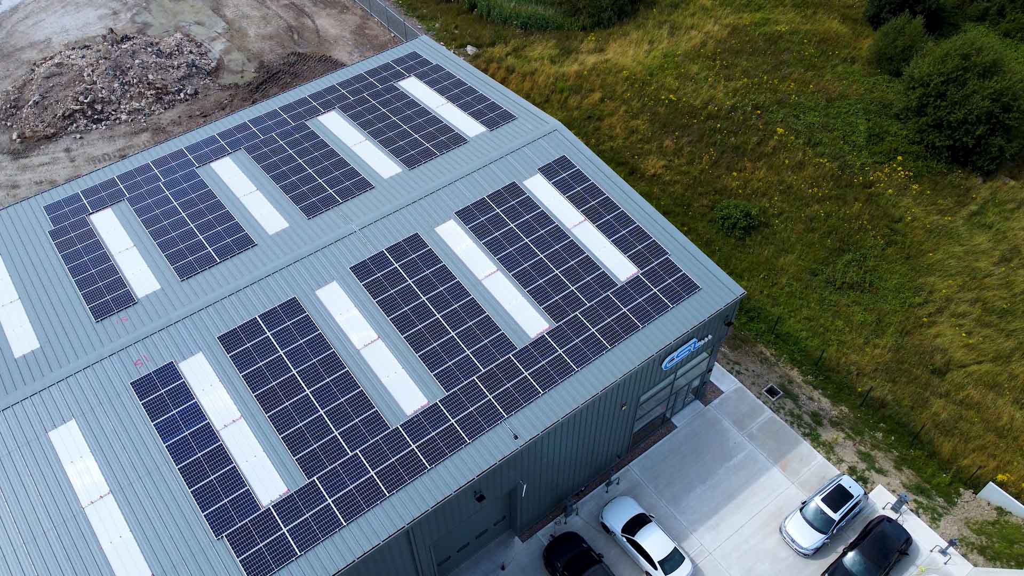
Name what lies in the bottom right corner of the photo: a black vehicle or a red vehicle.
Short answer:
black vehicle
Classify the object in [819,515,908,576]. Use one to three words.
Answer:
car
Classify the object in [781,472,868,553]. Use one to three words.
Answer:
car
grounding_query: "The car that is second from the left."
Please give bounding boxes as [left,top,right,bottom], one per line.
[600,496,690,576]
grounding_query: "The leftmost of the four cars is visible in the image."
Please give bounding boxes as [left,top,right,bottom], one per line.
[545,532,614,576]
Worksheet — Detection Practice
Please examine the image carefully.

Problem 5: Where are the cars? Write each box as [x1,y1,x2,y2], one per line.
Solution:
[781,472,868,553]
[545,532,614,576]
[600,496,690,576]
[819,515,908,576]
